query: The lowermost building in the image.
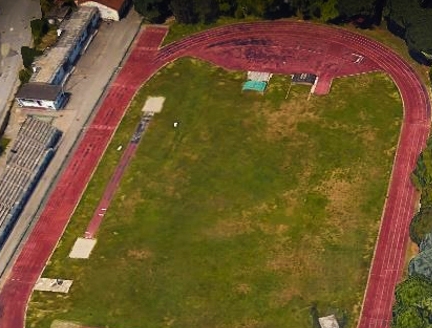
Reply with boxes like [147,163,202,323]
[17,81,64,111]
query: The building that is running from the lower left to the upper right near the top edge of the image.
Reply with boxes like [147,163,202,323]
[31,7,101,84]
